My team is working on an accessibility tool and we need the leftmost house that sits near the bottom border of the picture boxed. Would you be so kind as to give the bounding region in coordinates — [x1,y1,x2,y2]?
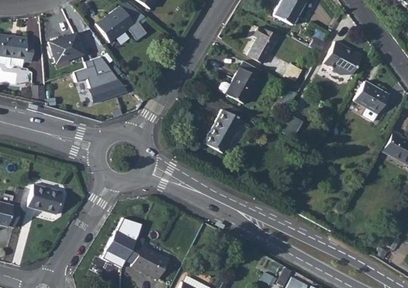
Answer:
[83,218,142,274]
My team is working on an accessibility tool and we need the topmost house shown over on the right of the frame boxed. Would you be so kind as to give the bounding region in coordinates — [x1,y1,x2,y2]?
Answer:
[271,0,305,26]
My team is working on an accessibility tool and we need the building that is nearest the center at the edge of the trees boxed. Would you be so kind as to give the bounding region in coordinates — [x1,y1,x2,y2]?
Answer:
[206,110,240,154]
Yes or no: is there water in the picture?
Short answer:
No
